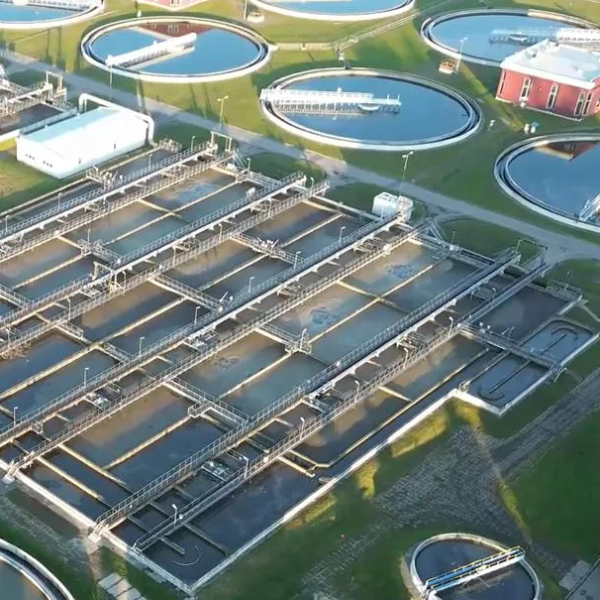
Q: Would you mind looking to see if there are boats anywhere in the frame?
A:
No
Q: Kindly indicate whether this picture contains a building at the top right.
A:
Yes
